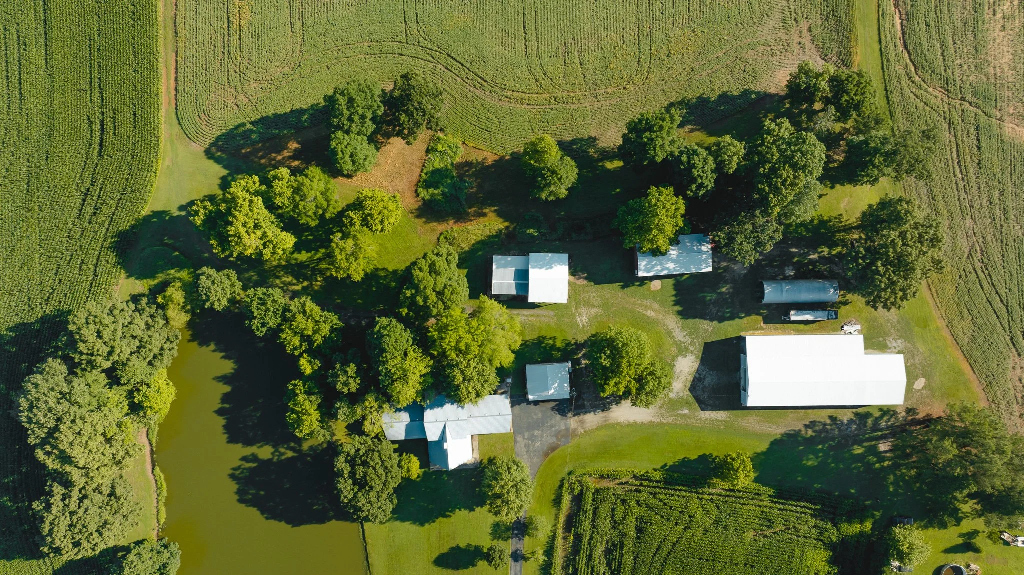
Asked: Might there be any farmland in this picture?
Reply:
Yes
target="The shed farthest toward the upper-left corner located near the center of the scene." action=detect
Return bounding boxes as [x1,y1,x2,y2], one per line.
[493,255,528,294]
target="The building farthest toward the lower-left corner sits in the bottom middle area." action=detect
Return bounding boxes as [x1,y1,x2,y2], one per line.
[384,393,512,471]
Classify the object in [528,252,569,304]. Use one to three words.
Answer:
barn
